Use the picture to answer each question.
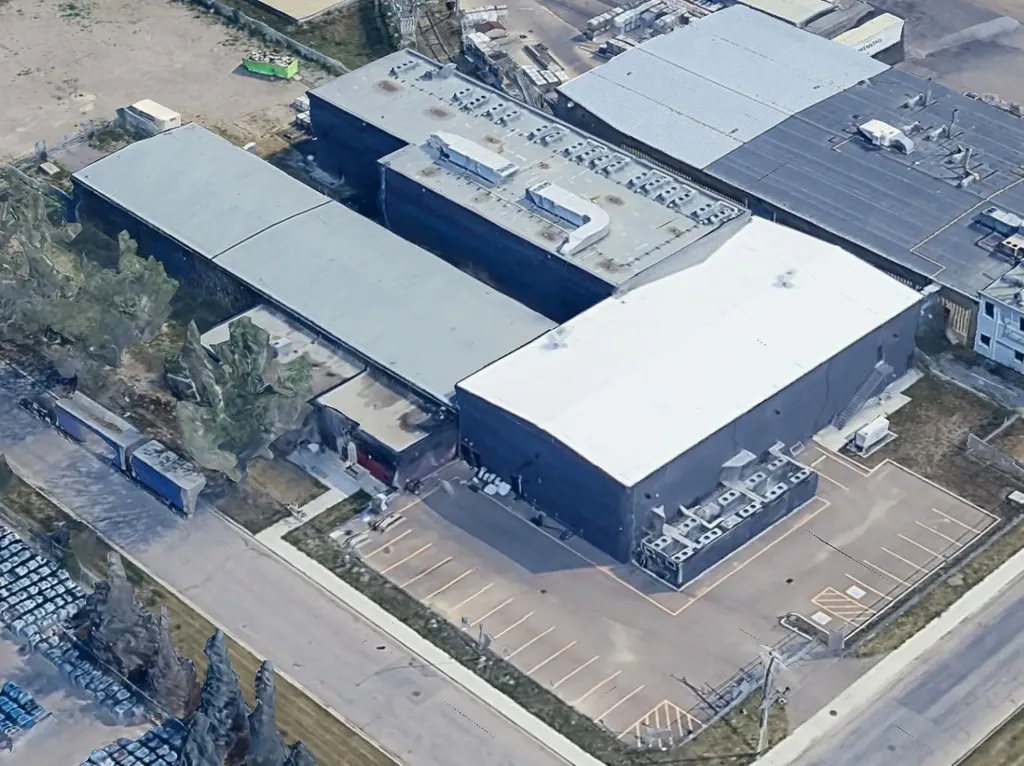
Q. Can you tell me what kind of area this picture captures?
industrial area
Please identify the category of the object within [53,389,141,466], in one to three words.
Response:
trailer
